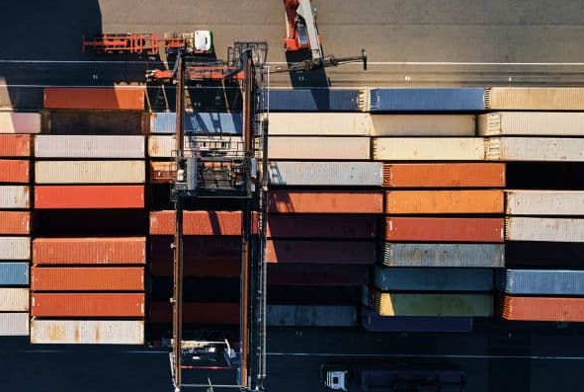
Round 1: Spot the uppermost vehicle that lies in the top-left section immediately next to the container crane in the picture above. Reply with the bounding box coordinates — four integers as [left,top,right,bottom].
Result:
[83,28,216,55]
